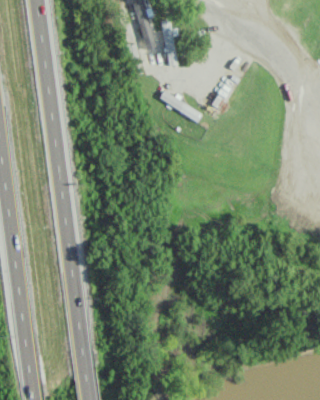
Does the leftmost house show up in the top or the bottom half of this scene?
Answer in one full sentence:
It is in the top half that the leftmost house appears.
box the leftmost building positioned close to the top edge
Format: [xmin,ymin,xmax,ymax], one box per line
[130,3,158,54]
